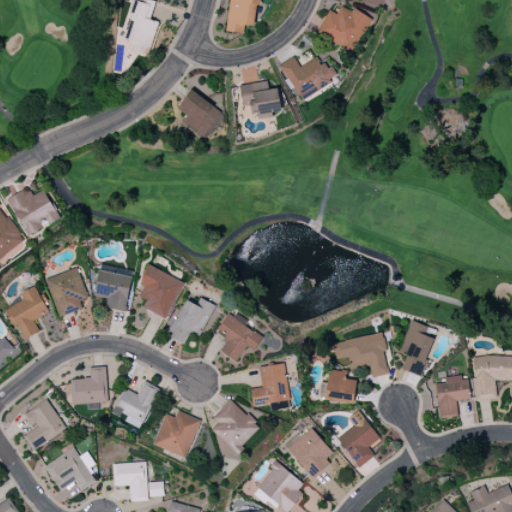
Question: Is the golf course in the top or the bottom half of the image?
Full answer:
You can find the golf course in the top half.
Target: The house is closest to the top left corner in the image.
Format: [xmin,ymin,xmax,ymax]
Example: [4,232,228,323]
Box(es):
[126,0,159,55]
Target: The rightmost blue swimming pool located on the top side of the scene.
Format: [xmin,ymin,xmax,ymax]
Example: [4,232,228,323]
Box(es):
[244,119,266,133]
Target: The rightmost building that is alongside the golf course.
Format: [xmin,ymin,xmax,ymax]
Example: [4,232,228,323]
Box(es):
[473,356,512,401]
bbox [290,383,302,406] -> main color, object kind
blue swimming pool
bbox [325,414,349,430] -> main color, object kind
blue swimming pool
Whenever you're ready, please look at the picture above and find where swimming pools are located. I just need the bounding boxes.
[52,250,75,268]
[96,240,126,262]
[325,414,349,430]
[474,340,495,350]
[7,282,19,298]
[254,460,268,482]
[114,44,125,71]
[432,336,452,358]
[290,383,302,406]
[244,119,266,133]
